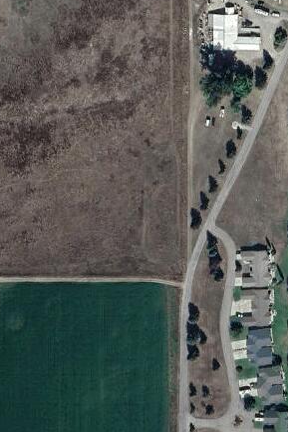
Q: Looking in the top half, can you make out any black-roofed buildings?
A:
No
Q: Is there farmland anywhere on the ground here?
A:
Yes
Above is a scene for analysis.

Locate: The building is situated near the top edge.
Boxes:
[209,5,261,50]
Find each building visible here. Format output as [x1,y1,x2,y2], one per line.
[241,250,273,287]
[264,408,288,432]
[240,288,273,325]
[257,367,286,404]
[245,326,274,367]
[209,5,261,50]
